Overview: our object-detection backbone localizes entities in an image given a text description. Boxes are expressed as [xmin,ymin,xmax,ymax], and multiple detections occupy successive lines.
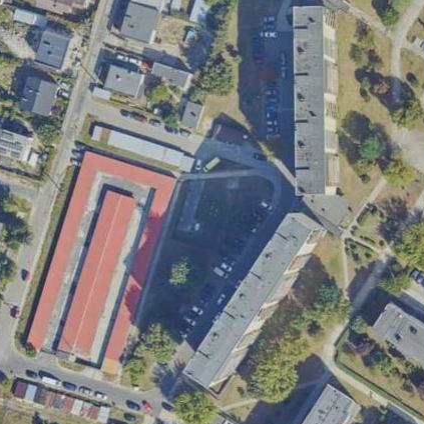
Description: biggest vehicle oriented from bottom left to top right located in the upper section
[201,155,220,172]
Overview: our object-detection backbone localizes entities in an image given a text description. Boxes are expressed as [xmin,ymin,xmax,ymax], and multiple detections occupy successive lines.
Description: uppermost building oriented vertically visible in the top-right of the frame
[293,6,335,194]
